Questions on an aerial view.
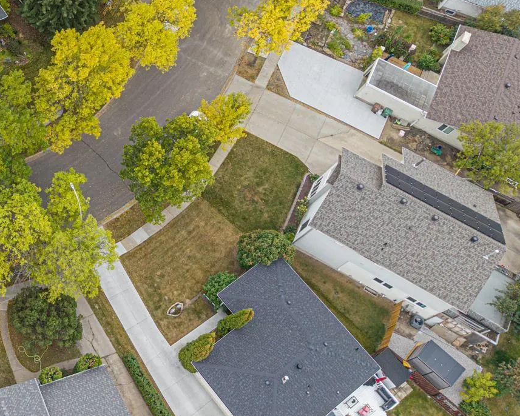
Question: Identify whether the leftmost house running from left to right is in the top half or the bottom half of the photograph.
bottom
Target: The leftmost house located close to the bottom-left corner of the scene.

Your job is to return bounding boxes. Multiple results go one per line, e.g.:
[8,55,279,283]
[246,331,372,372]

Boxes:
[0,361,130,416]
